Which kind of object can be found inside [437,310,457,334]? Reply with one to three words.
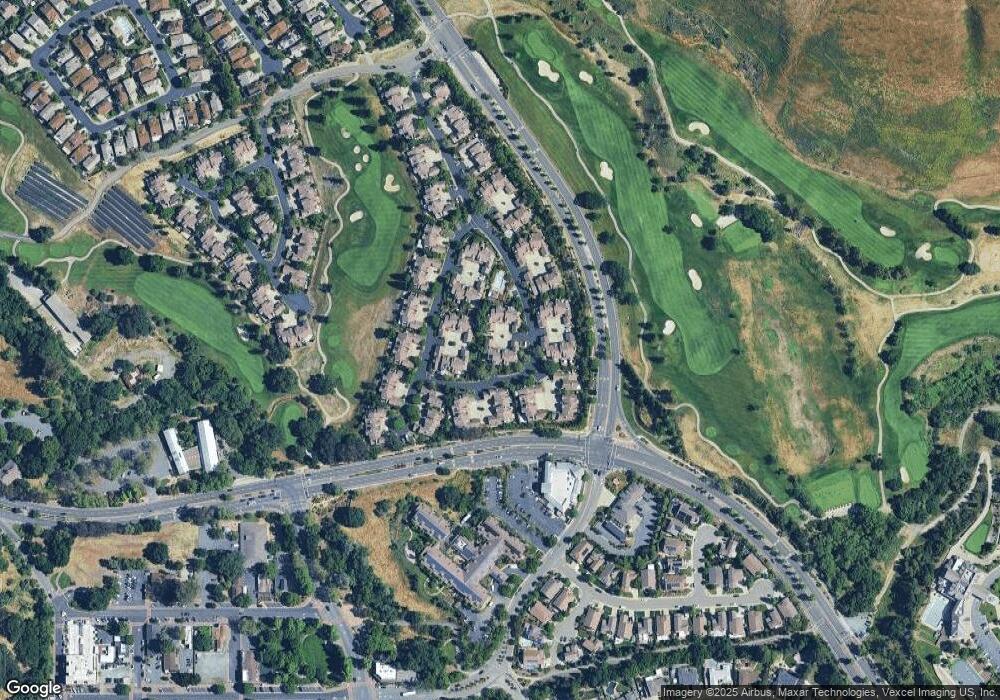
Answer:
building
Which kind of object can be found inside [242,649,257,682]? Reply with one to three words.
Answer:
barn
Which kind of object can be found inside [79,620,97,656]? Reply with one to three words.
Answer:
building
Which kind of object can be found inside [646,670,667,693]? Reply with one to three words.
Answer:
house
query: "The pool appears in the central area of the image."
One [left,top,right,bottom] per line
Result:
[492,276,505,297]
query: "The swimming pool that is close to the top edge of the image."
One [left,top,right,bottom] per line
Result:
[112,16,135,46]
